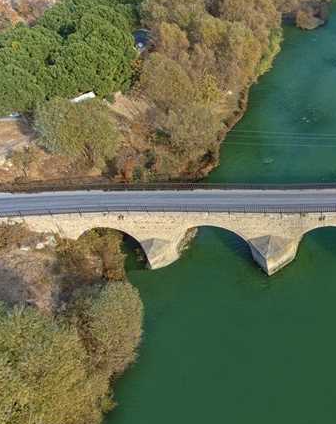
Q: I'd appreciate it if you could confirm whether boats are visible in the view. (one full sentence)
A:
No, no boat is visible in the scene.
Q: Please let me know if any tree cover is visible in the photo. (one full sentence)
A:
Yes, some tree cover is visible.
